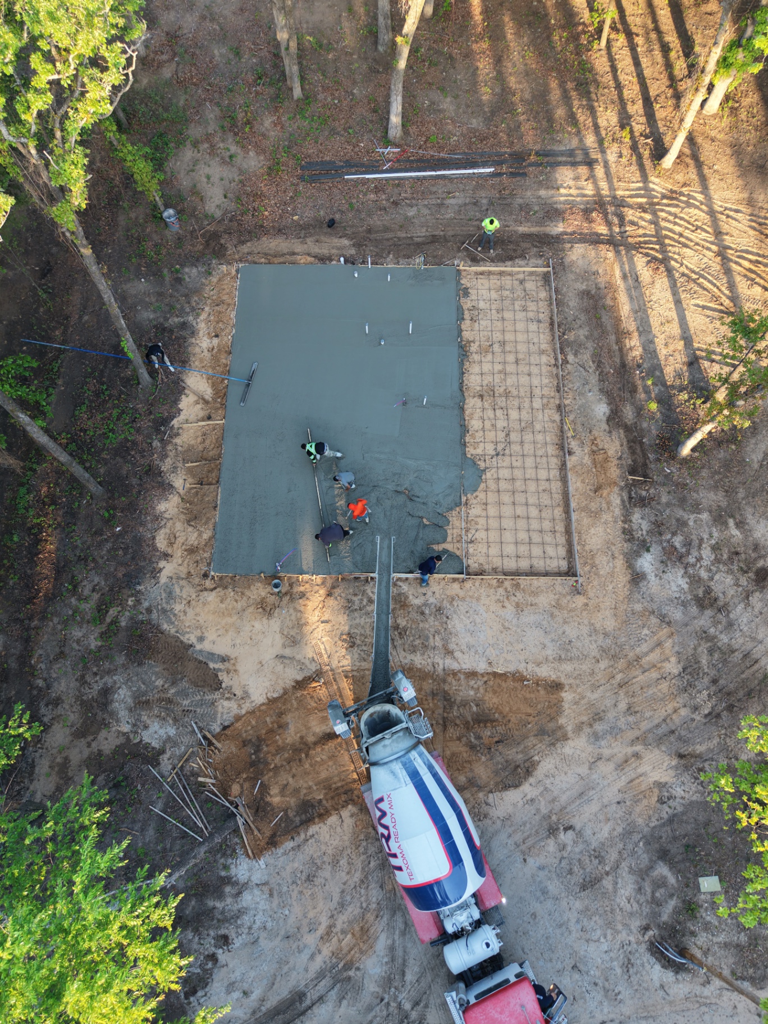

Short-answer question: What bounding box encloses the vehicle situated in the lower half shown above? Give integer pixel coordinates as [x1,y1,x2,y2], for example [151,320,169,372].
[327,537,576,1024]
